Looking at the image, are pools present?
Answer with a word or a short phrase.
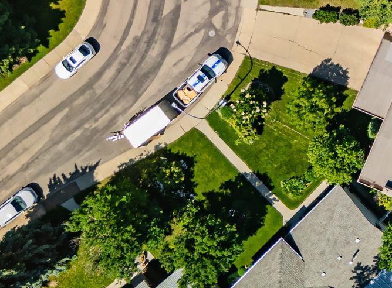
No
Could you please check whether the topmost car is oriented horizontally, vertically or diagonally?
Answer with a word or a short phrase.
diagonally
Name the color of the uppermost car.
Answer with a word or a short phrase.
white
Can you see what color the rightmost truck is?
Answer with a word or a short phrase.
white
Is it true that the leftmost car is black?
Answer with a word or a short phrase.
No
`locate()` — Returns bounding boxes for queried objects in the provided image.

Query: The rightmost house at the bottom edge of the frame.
[239,181,392,288]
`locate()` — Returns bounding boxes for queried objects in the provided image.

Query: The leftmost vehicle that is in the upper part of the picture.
[54,39,95,81]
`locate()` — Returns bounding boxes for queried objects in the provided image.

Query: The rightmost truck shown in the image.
[169,55,224,112]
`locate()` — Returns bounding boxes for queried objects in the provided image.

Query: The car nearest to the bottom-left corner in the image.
[0,190,34,227]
